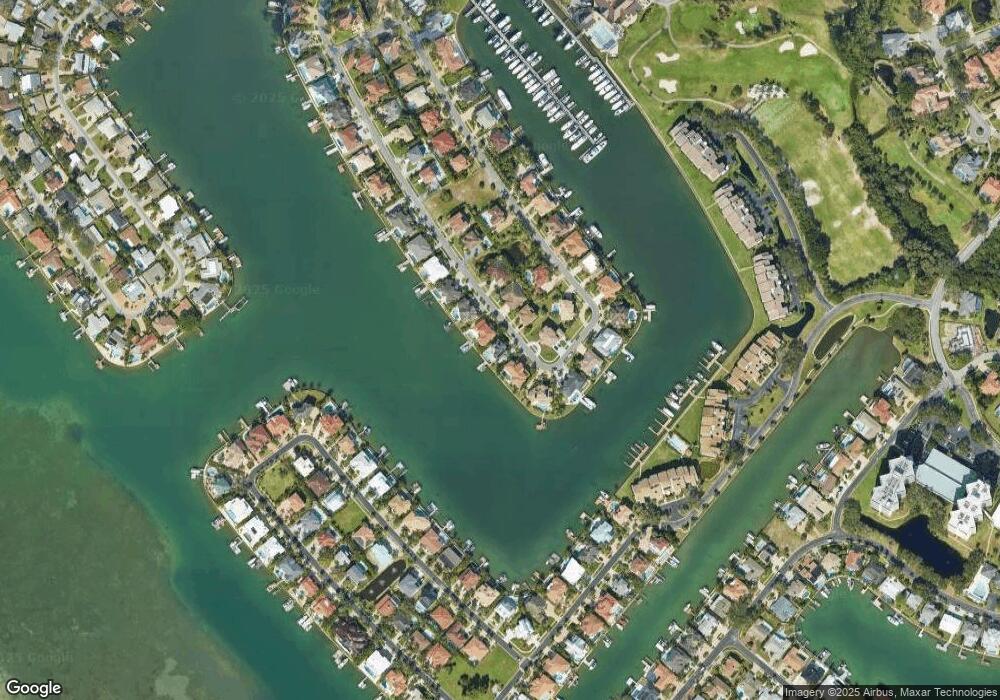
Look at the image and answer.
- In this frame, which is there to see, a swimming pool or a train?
swimming pool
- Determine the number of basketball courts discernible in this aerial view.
zero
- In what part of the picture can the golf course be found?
top right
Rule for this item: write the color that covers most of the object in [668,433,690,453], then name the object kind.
white swimming pool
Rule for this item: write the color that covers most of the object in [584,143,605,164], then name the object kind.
white boat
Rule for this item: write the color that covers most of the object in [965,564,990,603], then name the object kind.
white swimming pool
